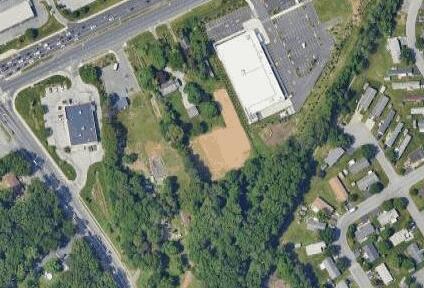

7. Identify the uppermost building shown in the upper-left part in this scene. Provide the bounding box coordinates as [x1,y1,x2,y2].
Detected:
[0,1,33,31]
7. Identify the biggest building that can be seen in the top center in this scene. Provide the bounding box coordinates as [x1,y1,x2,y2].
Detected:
[213,26,287,123]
